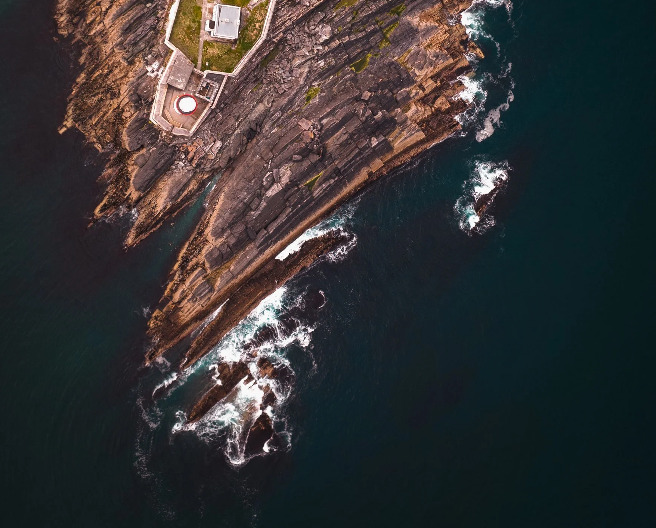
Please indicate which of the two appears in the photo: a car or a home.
home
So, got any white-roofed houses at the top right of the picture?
No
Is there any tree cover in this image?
No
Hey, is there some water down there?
Yes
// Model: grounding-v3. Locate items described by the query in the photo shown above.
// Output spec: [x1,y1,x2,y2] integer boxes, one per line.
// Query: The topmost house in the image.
[204,3,241,41]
